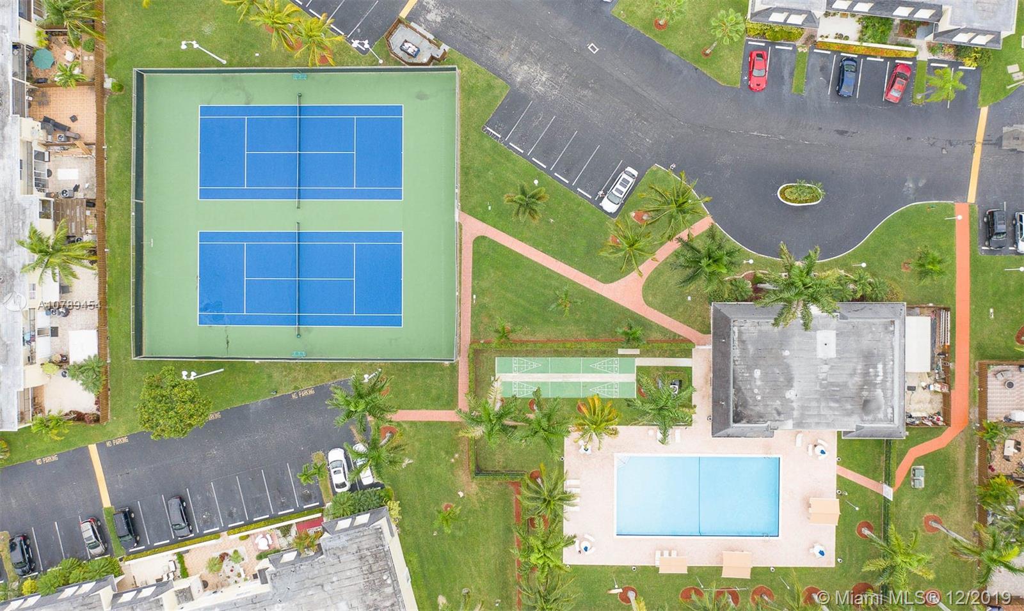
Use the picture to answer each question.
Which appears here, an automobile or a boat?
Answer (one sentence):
There is an automobile in the scene.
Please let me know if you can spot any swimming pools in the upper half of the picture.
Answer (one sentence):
No, I see no swimming pool in the upper half of the picture.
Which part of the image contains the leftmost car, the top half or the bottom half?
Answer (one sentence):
The bottom half of the photo is where the leftmost car is.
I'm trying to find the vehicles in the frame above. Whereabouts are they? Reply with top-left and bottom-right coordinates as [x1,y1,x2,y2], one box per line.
[329,449,351,493]
[985,209,1010,249]
[77,517,106,560]
[164,497,192,541]
[108,509,139,553]
[1014,211,1024,253]
[885,61,911,103]
[748,50,769,91]
[603,165,638,212]
[837,55,861,96]
[3,536,33,579]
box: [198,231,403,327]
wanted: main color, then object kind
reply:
blue tennis court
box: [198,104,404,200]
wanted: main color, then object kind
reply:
blue tennis court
